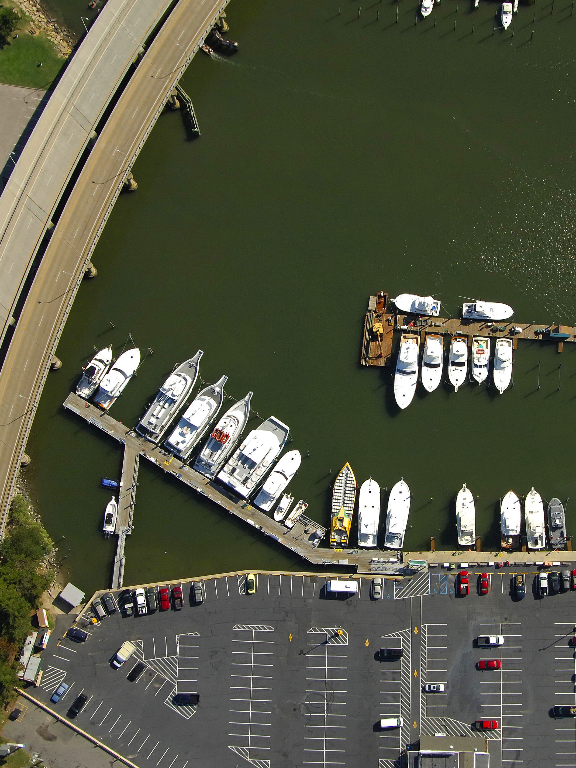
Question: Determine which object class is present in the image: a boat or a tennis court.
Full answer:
There is a boat in the scene.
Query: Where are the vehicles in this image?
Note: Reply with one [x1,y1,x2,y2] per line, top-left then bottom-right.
[323,580,359,591]
[478,661,501,670]
[135,588,146,614]
[561,571,572,590]
[50,681,69,703]
[460,571,469,595]
[380,649,403,659]
[68,695,87,717]
[380,717,404,727]
[160,588,170,610]
[192,582,204,604]
[476,721,498,730]
[127,661,145,681]
[146,588,158,611]
[550,571,560,592]
[102,592,116,611]
[112,642,134,667]
[65,629,89,642]
[172,695,199,704]
[539,573,549,596]
[478,635,504,645]
[172,587,183,609]
[123,589,134,615]
[515,575,524,599]
[372,579,381,599]
[480,573,488,593]
[93,599,108,619]
[554,706,576,716]
[426,684,444,693]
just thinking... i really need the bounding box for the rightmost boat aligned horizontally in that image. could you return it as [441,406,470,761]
[461,298,513,319]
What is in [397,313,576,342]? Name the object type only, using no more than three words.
pier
